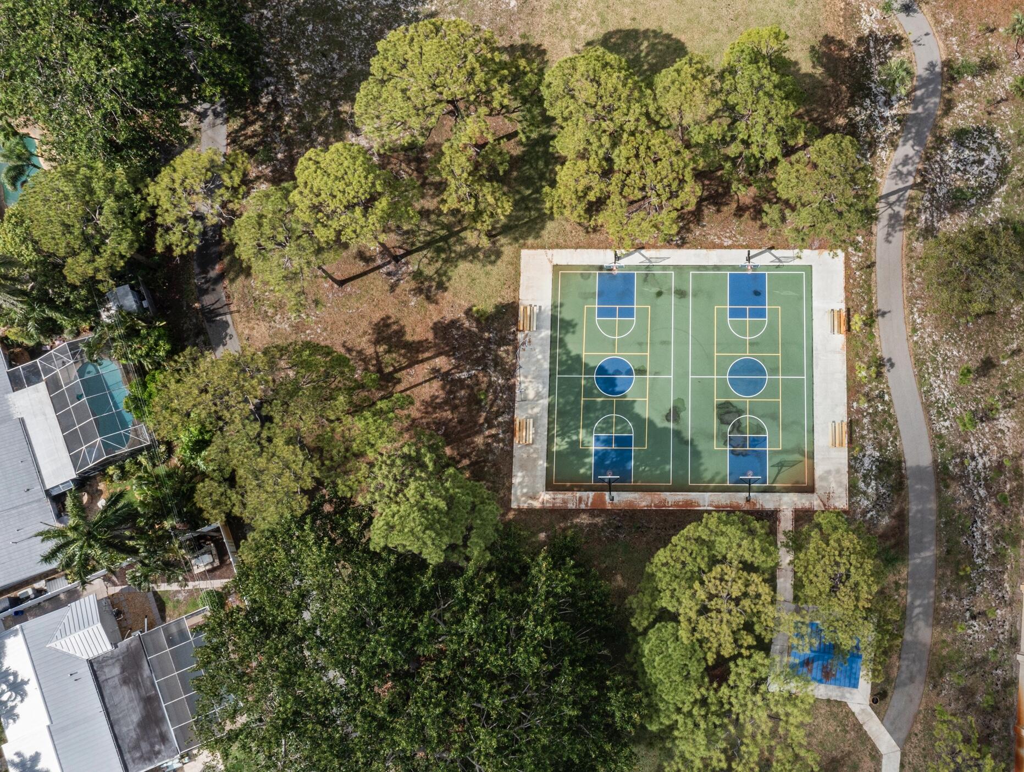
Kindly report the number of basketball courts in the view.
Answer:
2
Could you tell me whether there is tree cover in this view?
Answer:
Yes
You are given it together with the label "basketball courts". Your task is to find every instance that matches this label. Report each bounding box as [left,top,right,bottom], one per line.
[545,264,682,492]
[680,265,815,493]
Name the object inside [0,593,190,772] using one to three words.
house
